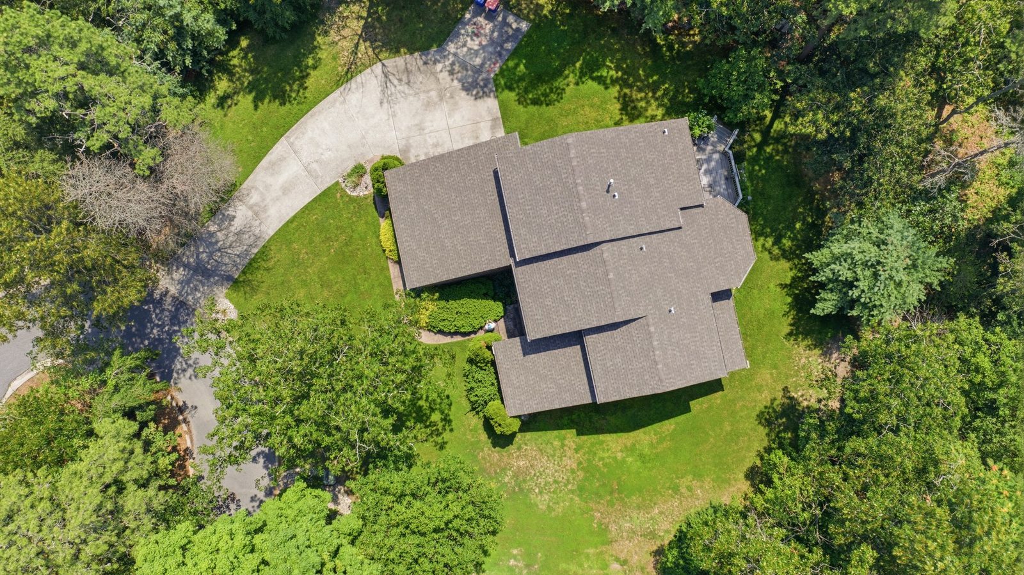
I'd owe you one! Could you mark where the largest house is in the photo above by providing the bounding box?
[383,117,758,416]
